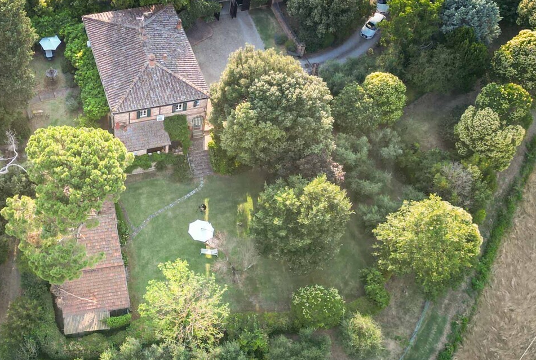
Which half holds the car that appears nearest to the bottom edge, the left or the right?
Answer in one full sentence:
The car that appears nearest to the bottom edge appears in the right half of the scene.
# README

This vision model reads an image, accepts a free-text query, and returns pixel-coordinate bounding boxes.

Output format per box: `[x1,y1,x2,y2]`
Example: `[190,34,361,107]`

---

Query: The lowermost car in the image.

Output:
[362,13,383,40]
